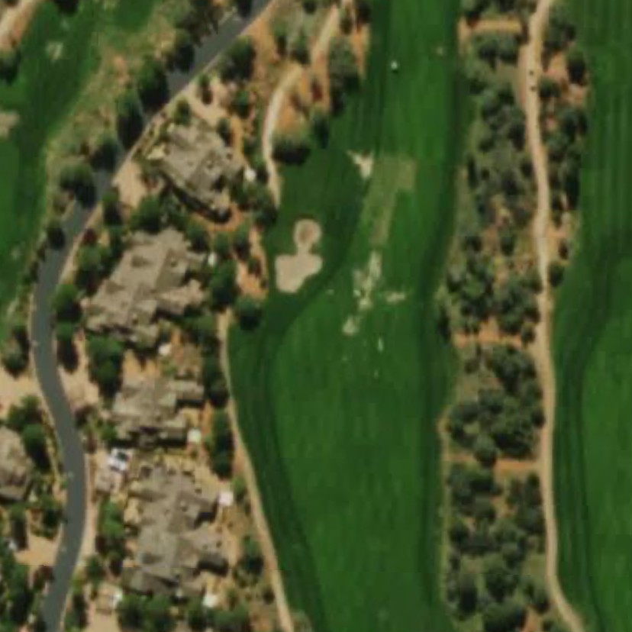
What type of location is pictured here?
golf course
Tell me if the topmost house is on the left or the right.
left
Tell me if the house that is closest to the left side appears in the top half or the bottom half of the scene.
bottom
